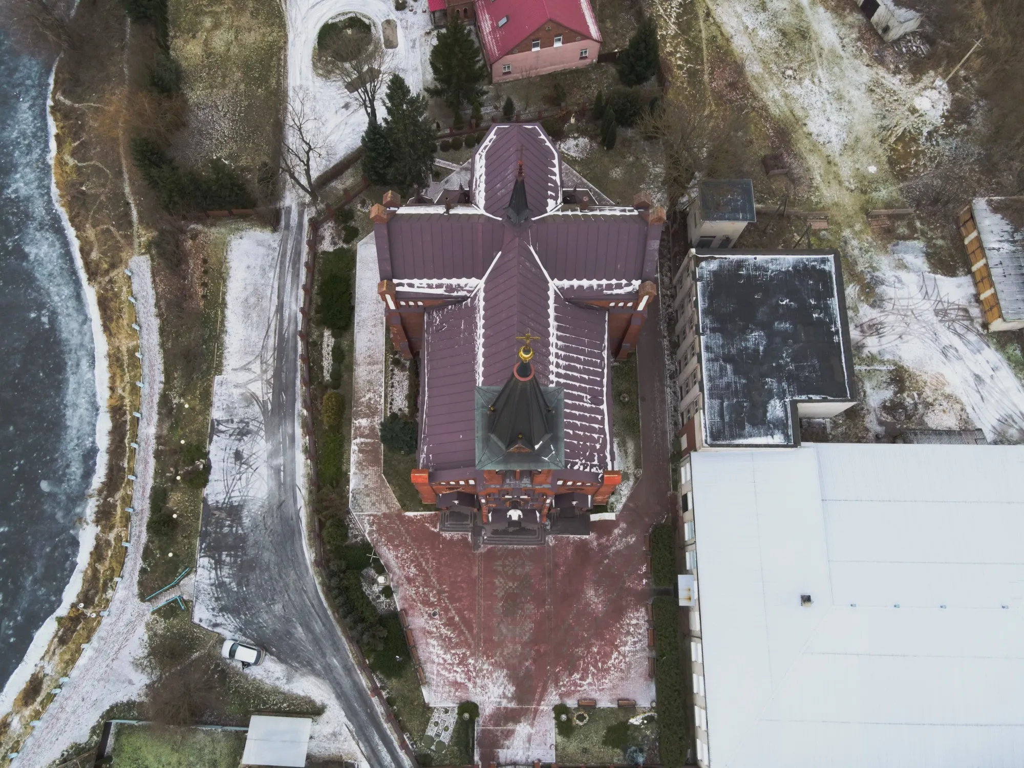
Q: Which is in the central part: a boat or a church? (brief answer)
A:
church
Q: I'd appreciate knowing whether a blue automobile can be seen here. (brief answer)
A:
No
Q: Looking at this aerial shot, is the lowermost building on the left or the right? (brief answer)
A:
left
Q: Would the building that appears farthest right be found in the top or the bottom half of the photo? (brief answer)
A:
top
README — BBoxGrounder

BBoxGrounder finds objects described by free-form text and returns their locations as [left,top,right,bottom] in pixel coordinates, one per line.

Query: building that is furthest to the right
[963,193,1024,329]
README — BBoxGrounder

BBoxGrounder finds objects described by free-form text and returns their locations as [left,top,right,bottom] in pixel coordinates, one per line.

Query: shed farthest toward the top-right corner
[859,0,919,43]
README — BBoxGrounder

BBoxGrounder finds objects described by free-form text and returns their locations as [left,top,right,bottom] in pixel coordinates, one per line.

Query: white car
[218,641,270,675]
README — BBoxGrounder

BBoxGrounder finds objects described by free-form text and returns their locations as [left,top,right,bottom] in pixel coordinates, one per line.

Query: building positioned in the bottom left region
[242,713,317,767]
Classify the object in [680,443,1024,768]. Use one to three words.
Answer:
building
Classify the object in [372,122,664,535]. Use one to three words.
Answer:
church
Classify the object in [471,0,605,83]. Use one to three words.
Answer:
house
